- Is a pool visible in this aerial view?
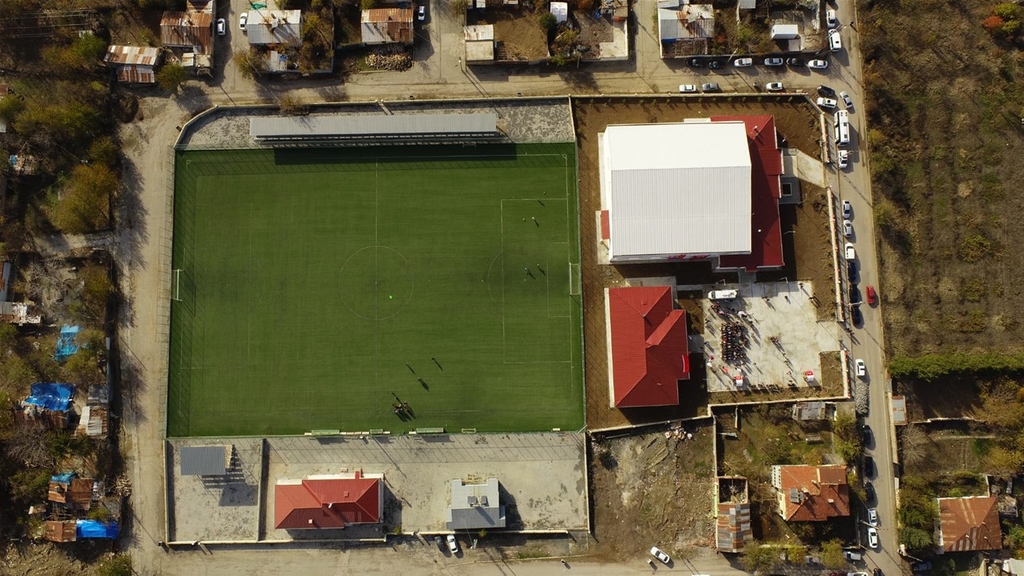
No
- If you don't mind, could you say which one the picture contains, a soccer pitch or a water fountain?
soccer pitch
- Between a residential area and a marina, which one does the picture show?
residential area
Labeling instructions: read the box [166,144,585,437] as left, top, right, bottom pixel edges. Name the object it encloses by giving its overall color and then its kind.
green soccer field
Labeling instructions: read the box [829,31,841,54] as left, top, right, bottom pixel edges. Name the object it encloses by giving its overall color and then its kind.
white vehicle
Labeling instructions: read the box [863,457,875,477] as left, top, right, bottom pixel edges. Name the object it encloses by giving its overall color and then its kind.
black vehicle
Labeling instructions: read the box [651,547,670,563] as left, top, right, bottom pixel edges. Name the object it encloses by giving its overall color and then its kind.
white car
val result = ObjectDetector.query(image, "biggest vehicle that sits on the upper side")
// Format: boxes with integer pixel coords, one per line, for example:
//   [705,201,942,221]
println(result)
[833,111,849,147]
